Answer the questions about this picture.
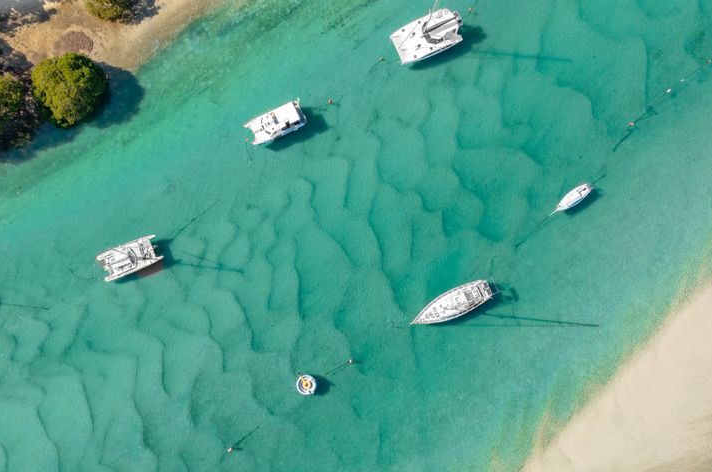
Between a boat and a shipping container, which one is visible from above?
boat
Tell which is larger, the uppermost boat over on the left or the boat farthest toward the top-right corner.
the uppermost boat over on the left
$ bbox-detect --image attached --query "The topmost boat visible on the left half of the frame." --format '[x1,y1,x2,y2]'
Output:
[245,97,312,148]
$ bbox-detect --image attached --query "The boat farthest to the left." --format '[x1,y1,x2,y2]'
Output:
[97,234,166,285]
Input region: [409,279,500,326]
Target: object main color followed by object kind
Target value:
white boat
